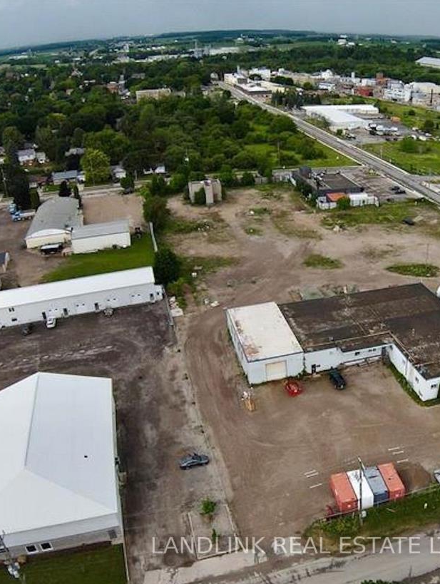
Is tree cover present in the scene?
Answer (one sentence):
Yes, the picture does contain tree cover.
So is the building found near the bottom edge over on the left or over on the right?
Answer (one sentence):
The building found near the bottom edge appears in the left half of the scene.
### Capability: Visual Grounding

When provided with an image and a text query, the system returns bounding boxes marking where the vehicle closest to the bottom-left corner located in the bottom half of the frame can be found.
[178,452,208,468]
